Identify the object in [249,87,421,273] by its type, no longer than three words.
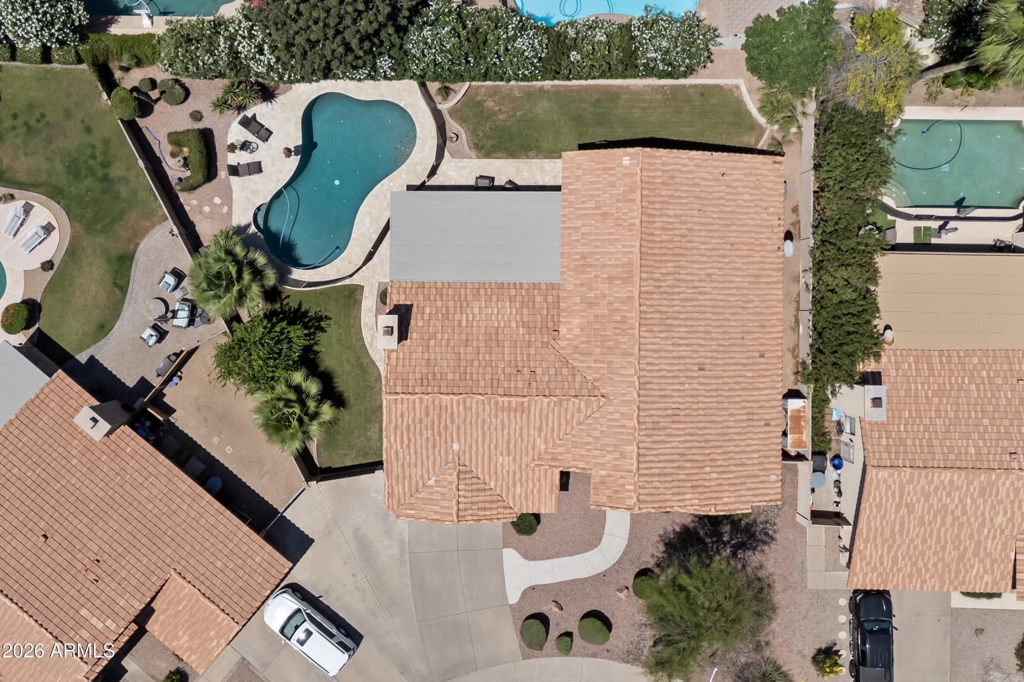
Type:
swimming pool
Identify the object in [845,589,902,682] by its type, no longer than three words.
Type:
truck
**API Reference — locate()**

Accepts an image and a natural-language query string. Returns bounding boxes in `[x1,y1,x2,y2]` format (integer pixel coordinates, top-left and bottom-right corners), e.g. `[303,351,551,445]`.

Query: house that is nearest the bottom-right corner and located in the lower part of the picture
[836,251,1024,609]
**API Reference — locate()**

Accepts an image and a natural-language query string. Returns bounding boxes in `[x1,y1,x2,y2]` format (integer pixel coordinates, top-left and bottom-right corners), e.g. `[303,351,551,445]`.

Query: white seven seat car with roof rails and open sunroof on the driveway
[264,588,361,682]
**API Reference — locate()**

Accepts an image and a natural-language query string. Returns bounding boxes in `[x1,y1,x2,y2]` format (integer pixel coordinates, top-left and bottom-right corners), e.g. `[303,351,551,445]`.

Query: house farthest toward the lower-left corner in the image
[0,333,292,682]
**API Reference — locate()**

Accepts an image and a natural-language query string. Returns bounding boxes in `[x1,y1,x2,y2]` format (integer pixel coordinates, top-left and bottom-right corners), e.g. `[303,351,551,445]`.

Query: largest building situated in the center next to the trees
[378,147,786,523]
